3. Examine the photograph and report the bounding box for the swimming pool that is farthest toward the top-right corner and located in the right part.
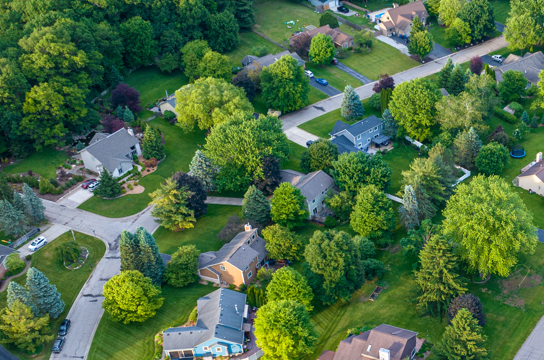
[359,7,393,21]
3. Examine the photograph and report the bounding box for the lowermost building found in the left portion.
[163,285,246,359]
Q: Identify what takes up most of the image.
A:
trees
